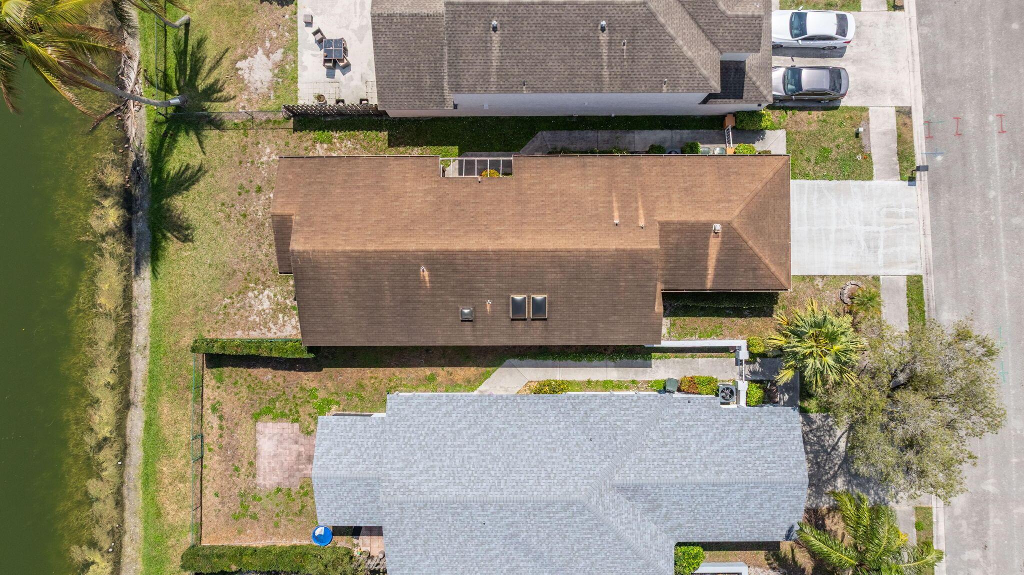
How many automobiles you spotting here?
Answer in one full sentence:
There are 2 automobiles in the image.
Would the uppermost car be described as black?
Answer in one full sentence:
No, the uppermost car is actually white.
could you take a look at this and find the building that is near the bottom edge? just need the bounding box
[311,391,810,575]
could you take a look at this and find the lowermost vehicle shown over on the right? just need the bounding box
[771,61,848,102]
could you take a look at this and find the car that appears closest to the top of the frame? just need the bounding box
[771,6,854,49]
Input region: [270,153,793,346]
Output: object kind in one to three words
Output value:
house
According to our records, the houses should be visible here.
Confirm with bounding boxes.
[371,0,774,116]
[270,153,793,346]
[311,391,810,575]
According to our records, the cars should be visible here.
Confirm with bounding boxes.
[771,61,848,102]
[771,6,854,49]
